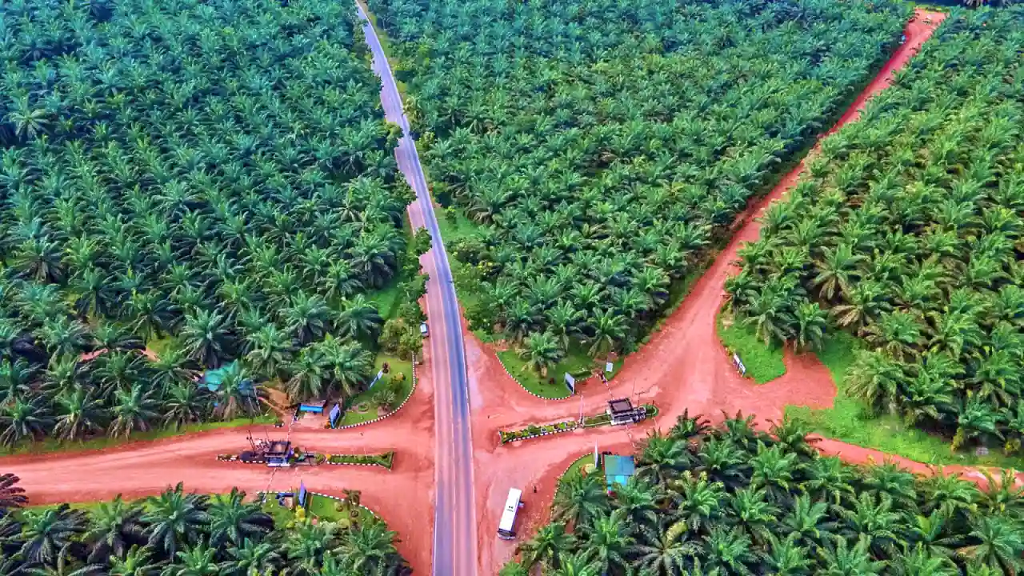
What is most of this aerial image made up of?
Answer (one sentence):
What you mostly see from above here is trees.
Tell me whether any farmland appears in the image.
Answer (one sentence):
No, there is no farmland in the image.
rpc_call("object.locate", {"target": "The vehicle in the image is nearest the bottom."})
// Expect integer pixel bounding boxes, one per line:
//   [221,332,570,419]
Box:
[496,489,522,542]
